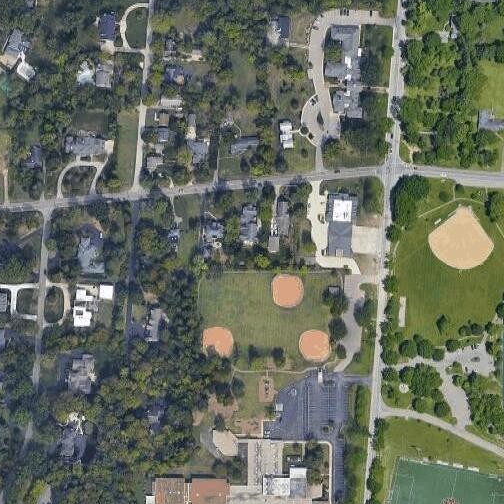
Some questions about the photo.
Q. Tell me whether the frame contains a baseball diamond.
Yes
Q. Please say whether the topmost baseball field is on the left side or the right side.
right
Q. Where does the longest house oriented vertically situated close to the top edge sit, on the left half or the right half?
right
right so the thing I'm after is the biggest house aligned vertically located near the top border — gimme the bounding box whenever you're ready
[325,24,363,117]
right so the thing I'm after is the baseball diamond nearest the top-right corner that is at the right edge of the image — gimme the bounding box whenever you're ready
[429,204,495,270]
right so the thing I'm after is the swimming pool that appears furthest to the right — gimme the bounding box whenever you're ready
[77,64,95,83]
